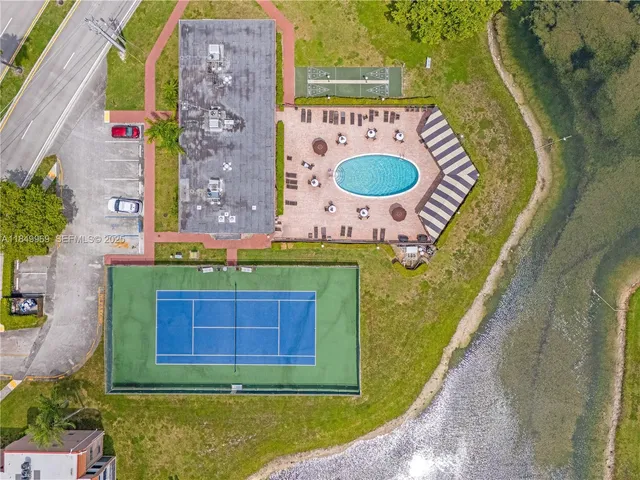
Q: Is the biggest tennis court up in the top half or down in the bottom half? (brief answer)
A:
bottom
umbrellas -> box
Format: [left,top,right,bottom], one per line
[312,140,328,155]
[391,206,406,221]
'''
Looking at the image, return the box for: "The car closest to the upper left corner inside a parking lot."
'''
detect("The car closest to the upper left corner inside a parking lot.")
[112,125,141,139]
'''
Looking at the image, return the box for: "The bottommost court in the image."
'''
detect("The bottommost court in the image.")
[111,265,361,392]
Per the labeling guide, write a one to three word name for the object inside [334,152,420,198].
swimming pool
